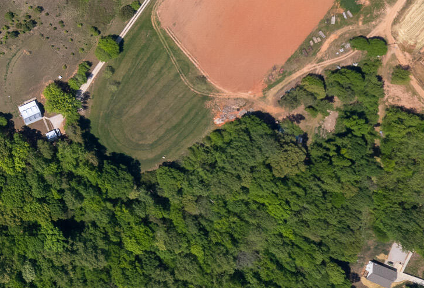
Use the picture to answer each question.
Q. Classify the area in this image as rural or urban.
rural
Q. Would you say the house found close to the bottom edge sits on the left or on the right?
right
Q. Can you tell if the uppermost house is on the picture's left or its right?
left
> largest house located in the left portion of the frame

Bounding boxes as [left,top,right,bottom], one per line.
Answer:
[19,97,42,124]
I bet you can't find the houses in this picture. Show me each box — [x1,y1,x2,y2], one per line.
[362,261,394,288]
[19,97,42,124]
